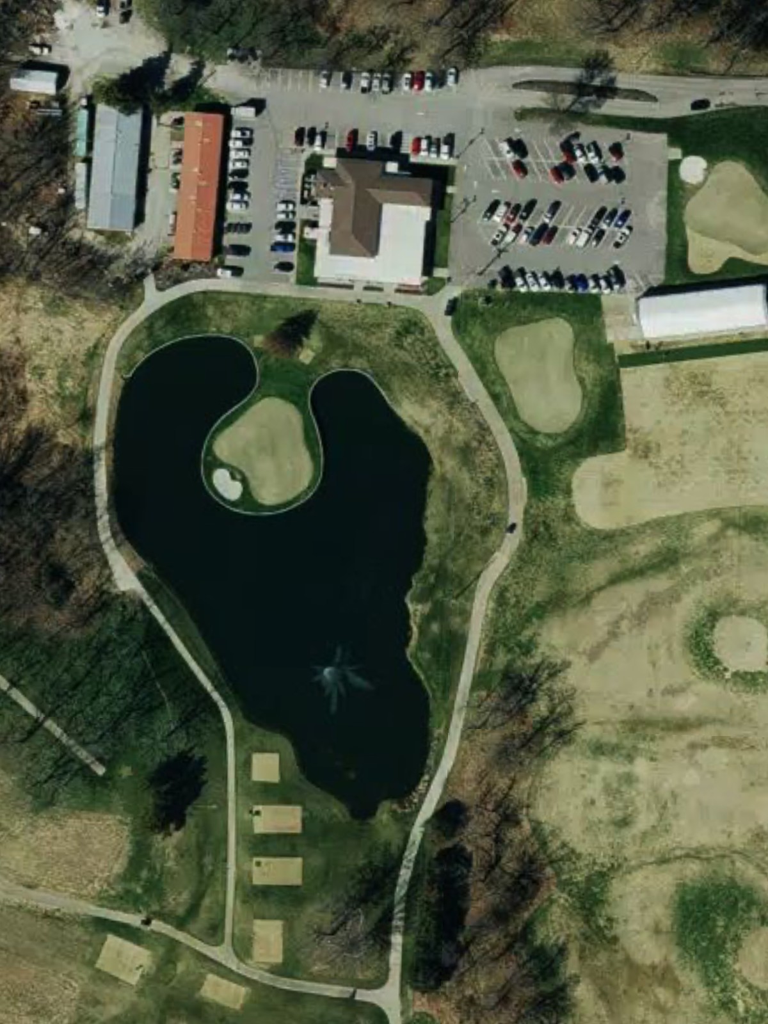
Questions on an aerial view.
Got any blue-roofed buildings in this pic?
No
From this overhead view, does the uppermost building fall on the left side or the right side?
left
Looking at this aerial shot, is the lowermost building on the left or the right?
right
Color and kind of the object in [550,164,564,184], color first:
red car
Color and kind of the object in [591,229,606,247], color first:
black car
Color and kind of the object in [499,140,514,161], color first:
white car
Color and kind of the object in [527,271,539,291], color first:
white vehicle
